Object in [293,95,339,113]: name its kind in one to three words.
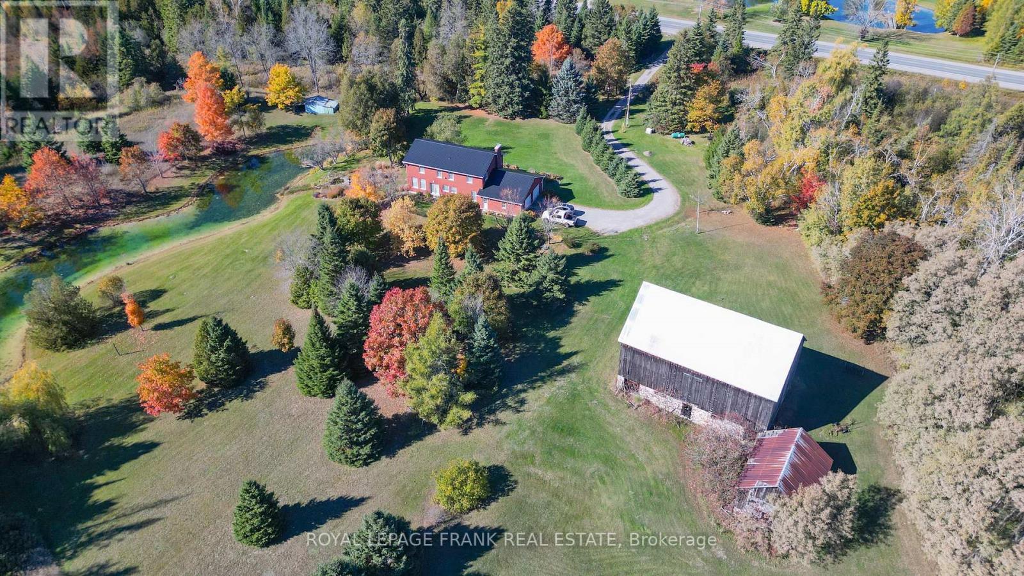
shed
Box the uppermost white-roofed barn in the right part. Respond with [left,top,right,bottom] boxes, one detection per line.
[617,279,805,450]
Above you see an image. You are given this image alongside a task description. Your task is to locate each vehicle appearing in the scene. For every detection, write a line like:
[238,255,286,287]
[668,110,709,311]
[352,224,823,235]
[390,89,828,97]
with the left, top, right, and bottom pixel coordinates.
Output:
[546,201,573,214]
[540,210,576,227]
